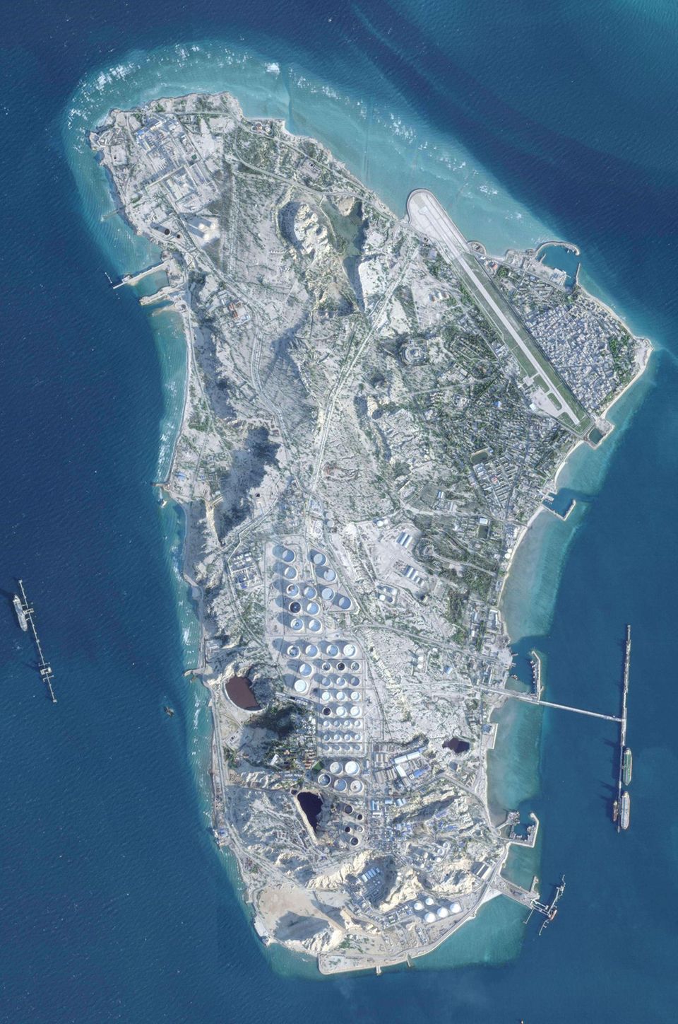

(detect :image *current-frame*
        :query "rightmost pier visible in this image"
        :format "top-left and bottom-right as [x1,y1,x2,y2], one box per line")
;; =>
[618,625,631,833]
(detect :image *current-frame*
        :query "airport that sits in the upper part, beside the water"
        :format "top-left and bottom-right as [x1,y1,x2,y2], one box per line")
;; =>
[408,190,591,432]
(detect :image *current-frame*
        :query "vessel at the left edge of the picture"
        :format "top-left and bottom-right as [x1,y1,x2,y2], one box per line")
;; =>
[12,595,26,631]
